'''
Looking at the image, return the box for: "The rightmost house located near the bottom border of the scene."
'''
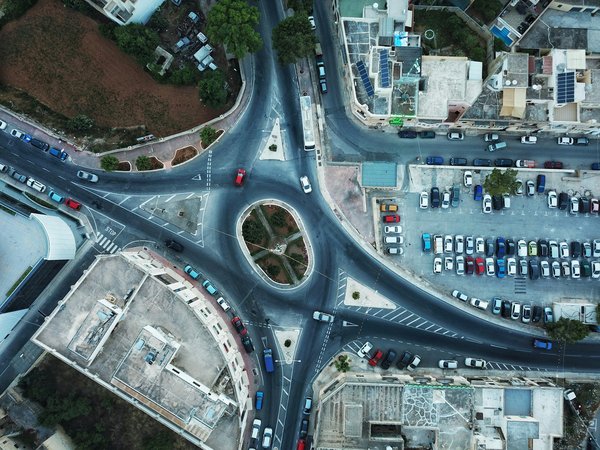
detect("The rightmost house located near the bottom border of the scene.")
[467,374,564,450]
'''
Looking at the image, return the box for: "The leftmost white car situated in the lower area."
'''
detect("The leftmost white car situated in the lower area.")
[216,295,232,313]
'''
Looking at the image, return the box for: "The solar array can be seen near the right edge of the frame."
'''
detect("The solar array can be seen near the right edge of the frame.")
[557,73,574,103]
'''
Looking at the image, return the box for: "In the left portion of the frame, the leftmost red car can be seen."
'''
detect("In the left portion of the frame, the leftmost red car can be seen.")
[64,197,83,210]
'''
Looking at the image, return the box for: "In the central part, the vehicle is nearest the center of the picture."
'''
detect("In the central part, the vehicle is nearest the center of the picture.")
[299,175,312,194]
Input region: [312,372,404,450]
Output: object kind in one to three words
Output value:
house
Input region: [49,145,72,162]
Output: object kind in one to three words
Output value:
vehicle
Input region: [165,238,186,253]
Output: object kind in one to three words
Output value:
car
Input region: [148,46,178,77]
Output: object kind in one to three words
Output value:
shed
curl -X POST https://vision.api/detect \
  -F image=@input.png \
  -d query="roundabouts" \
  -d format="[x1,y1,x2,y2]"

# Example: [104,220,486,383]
[237,199,315,291]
